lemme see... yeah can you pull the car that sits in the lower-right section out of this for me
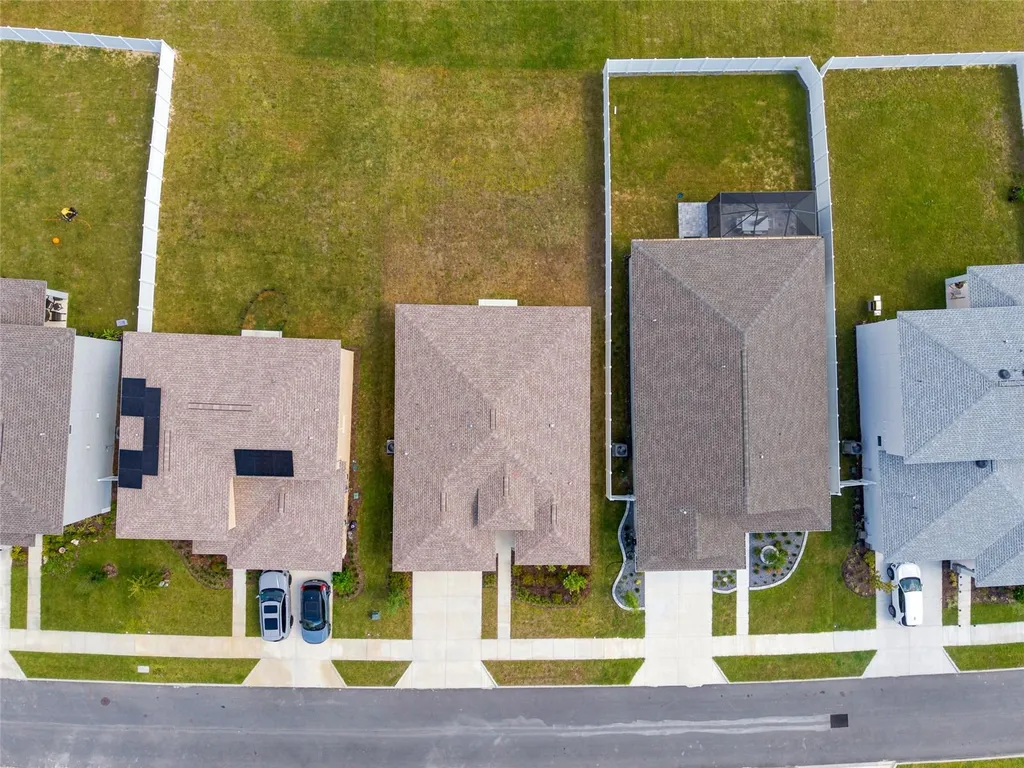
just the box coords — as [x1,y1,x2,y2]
[888,562,926,628]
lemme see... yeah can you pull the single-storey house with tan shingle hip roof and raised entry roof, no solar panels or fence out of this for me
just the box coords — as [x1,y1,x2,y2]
[392,304,593,573]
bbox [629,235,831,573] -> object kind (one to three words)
house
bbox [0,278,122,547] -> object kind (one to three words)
house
